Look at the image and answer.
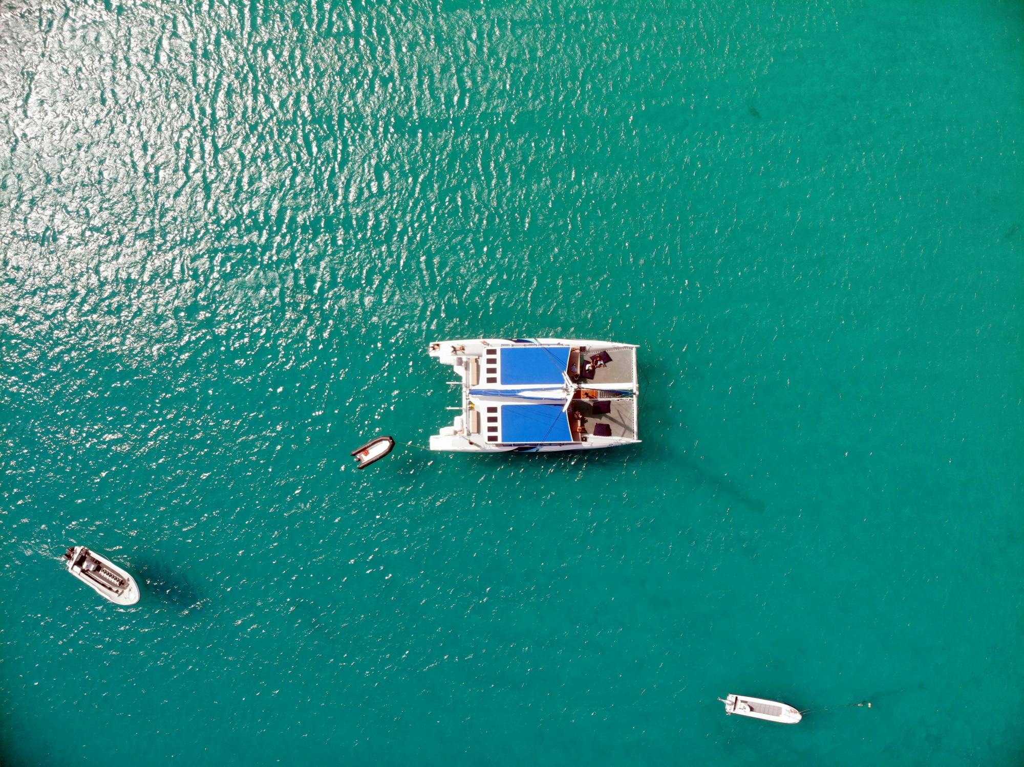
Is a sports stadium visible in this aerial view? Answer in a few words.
No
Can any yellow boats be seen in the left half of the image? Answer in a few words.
No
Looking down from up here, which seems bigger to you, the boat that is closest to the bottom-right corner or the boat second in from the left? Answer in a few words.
the boat that is closest to the bottom-right corner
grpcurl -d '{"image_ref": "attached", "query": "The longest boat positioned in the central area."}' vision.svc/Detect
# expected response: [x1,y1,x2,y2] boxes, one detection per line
[429,338,640,452]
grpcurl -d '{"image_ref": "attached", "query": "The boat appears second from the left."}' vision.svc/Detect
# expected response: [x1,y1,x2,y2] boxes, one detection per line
[350,436,395,468]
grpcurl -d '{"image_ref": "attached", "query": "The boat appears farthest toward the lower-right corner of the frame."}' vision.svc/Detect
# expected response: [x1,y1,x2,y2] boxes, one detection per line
[717,693,802,724]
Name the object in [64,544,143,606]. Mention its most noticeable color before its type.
white boat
